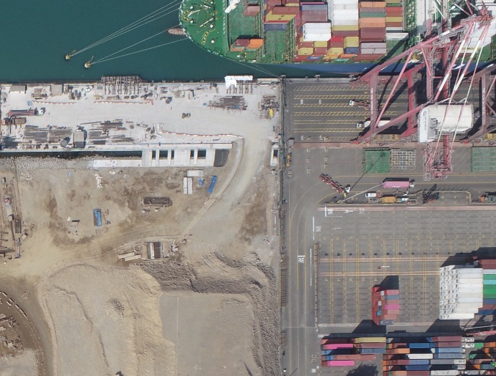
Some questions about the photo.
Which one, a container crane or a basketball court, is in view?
container crane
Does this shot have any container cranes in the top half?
Yes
